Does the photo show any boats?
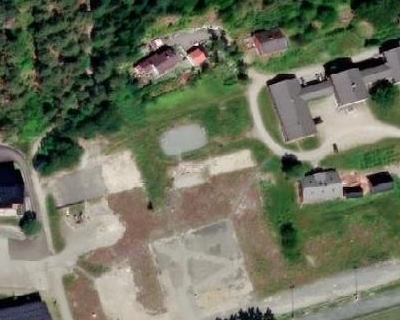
No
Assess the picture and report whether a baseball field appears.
No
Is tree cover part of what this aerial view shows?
Yes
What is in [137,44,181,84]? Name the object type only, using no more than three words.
house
